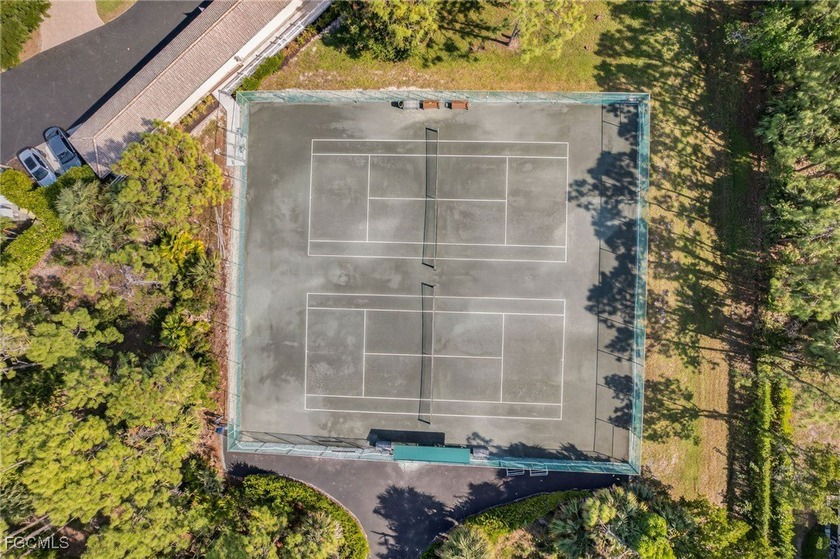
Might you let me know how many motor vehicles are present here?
2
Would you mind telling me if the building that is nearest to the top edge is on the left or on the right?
left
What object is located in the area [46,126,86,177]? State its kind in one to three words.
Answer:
car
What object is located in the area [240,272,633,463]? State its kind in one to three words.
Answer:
tennis court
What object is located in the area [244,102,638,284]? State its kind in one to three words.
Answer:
tennis court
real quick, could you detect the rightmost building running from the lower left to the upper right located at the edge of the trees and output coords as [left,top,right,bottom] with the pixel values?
[68,0,308,177]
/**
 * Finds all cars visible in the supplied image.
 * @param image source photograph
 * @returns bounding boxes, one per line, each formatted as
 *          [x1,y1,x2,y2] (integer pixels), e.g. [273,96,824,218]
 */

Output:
[19,142,60,188]
[46,126,86,177]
